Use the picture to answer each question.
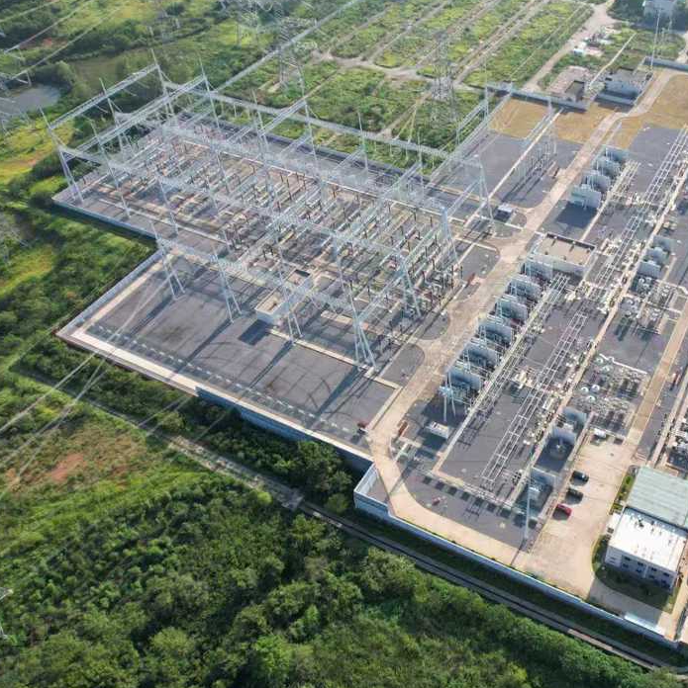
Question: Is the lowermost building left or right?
right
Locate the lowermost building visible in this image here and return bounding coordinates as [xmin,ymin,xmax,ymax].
[600,507,688,593]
